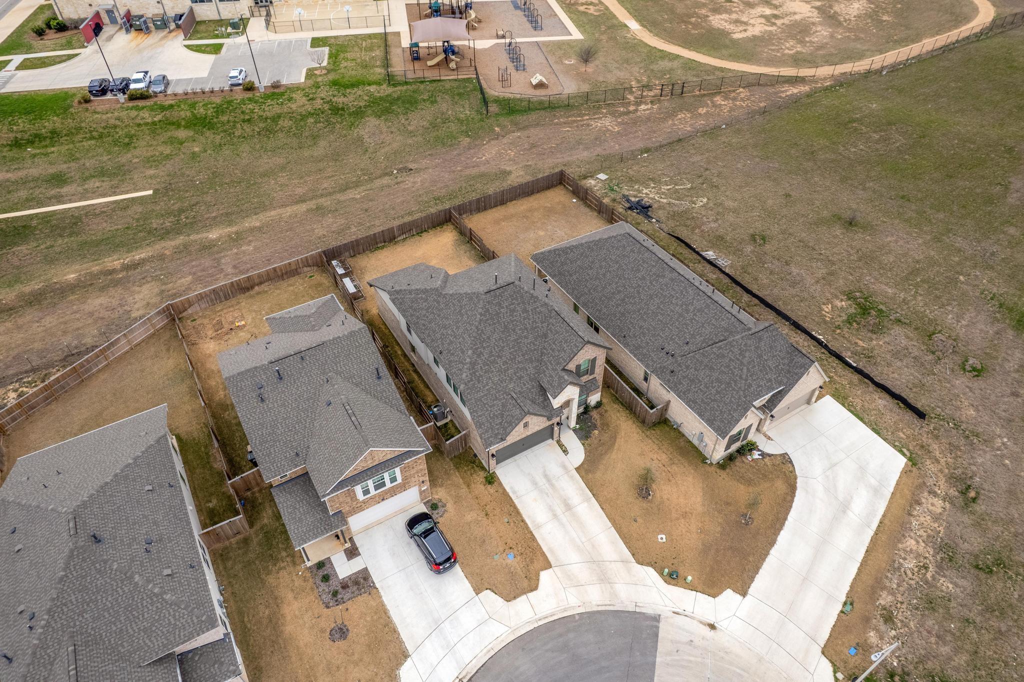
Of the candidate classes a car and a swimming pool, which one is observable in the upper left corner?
car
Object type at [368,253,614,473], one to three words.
house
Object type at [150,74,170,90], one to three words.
car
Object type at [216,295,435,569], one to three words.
house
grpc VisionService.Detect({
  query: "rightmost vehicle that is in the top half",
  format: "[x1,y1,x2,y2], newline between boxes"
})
[227,67,244,83]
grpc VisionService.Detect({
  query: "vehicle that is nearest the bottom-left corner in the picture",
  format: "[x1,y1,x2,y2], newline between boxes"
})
[403,511,461,577]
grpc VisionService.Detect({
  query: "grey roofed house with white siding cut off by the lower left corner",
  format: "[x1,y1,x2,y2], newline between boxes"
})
[0,404,252,682]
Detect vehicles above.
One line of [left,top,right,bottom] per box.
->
[88,77,110,93]
[109,75,131,92]
[227,67,244,83]
[129,69,153,90]
[150,74,170,90]
[403,511,461,577]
